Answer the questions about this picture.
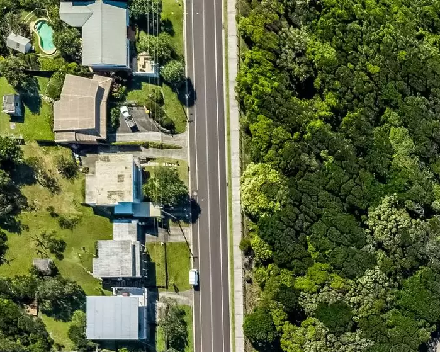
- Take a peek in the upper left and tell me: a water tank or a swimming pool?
swimming pool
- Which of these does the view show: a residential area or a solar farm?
residential area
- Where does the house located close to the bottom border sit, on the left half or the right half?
left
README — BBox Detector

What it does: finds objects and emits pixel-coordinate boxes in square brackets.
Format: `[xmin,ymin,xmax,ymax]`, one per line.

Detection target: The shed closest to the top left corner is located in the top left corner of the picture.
[7,34,35,56]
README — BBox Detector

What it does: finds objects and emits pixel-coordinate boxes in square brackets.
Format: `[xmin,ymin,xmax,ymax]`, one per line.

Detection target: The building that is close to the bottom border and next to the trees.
[86,287,153,340]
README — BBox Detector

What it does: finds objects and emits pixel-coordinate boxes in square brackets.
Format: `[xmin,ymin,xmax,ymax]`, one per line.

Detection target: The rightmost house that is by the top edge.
[59,0,140,71]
